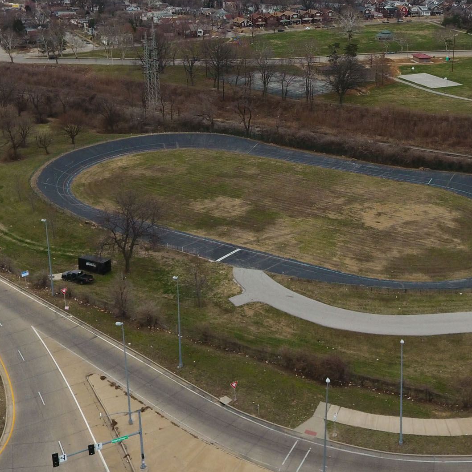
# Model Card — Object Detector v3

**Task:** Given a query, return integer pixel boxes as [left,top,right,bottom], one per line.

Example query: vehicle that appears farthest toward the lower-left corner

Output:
[61,270,95,286]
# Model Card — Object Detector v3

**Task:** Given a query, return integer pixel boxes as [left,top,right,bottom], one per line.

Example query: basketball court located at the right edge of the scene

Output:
[398,73,461,88]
